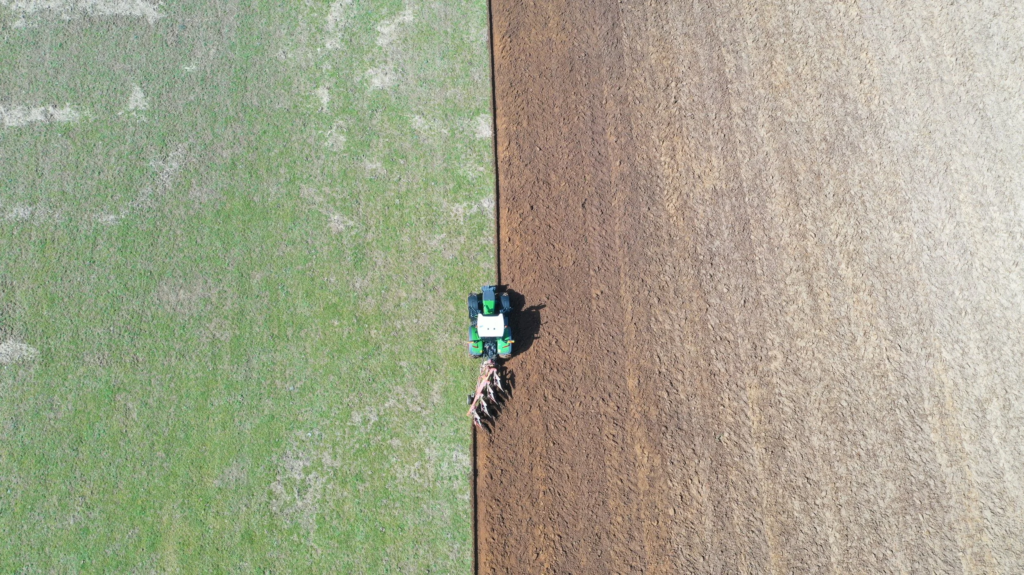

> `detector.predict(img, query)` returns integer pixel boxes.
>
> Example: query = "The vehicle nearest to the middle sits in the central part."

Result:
[467,284,513,363]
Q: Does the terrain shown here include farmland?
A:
Yes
